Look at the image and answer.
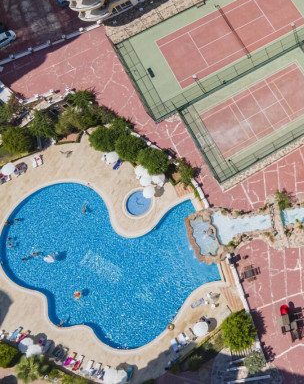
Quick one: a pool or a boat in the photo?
pool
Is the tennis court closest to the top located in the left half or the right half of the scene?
right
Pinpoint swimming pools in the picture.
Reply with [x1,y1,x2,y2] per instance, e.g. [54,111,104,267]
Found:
[0,180,226,352]
[122,188,155,220]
